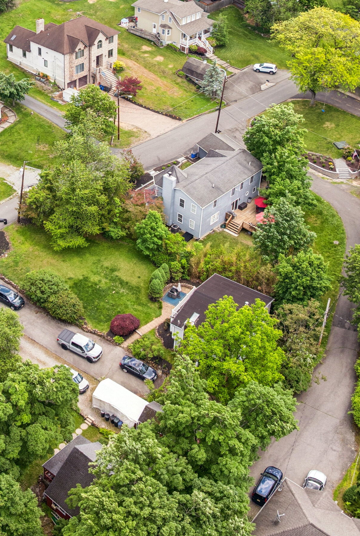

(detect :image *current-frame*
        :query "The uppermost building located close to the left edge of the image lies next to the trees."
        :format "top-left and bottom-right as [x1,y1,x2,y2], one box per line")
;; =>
[2,15,127,90]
